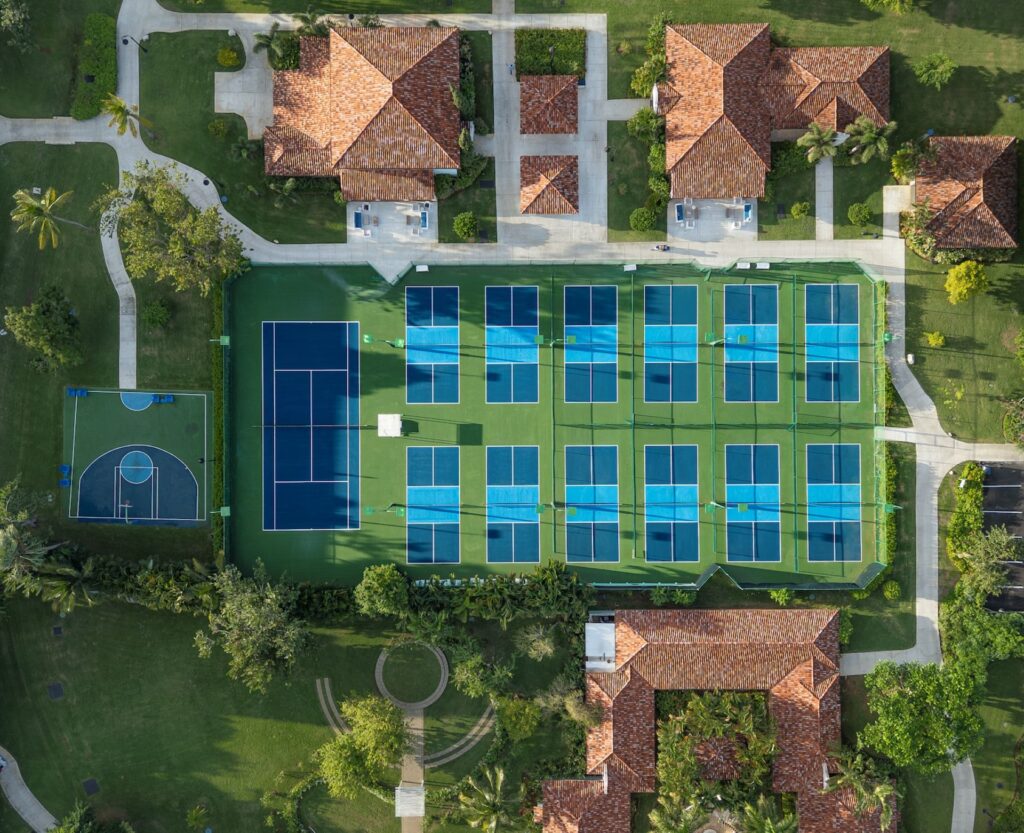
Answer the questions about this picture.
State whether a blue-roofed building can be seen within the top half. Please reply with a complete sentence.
No, no blue-roofed building is visible within the top half.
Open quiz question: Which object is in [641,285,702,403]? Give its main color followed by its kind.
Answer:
blue sports court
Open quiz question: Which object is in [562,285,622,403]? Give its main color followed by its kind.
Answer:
blue sports court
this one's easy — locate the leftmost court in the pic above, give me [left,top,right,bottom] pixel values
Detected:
[62,387,211,526]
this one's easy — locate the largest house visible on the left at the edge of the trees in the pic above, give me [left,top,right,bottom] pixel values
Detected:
[264,26,474,202]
